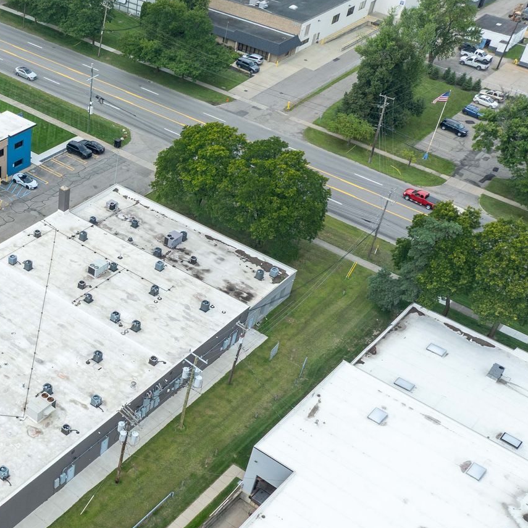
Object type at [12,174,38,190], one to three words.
car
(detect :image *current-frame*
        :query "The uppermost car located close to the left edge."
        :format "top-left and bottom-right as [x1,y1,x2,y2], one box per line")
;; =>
[14,66,38,80]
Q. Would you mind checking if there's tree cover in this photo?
Yes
